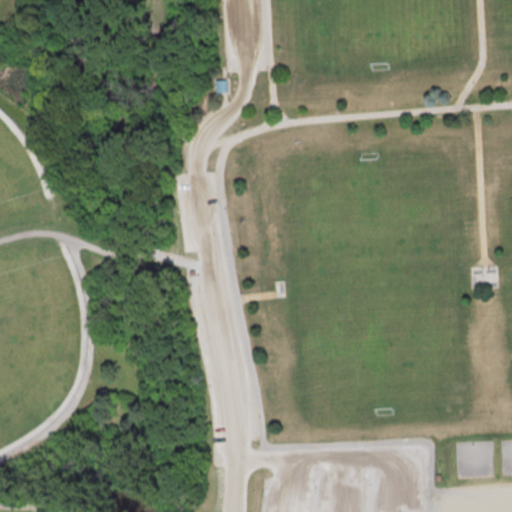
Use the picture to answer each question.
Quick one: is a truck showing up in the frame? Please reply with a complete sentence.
No, this view has no truck in it.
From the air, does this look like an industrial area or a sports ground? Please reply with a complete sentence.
The area seen from above is a sports ground.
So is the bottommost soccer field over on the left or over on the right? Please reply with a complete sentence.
The bottommost soccer field is on the right side of the image.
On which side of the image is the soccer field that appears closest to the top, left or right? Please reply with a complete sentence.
It is on the right.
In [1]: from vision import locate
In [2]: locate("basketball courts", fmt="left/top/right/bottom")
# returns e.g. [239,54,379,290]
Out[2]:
[456,442,494,479]
[502,441,512,476]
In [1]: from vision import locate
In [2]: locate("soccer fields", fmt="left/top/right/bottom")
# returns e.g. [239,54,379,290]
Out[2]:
[270,0,474,86]
[282,151,474,428]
